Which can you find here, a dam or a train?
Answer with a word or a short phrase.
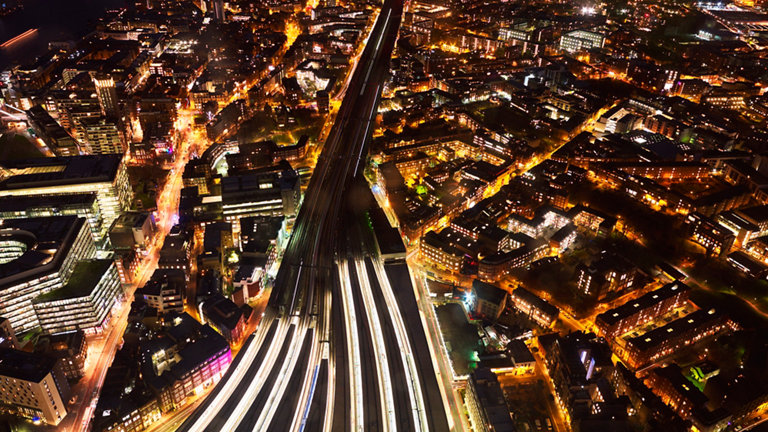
train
